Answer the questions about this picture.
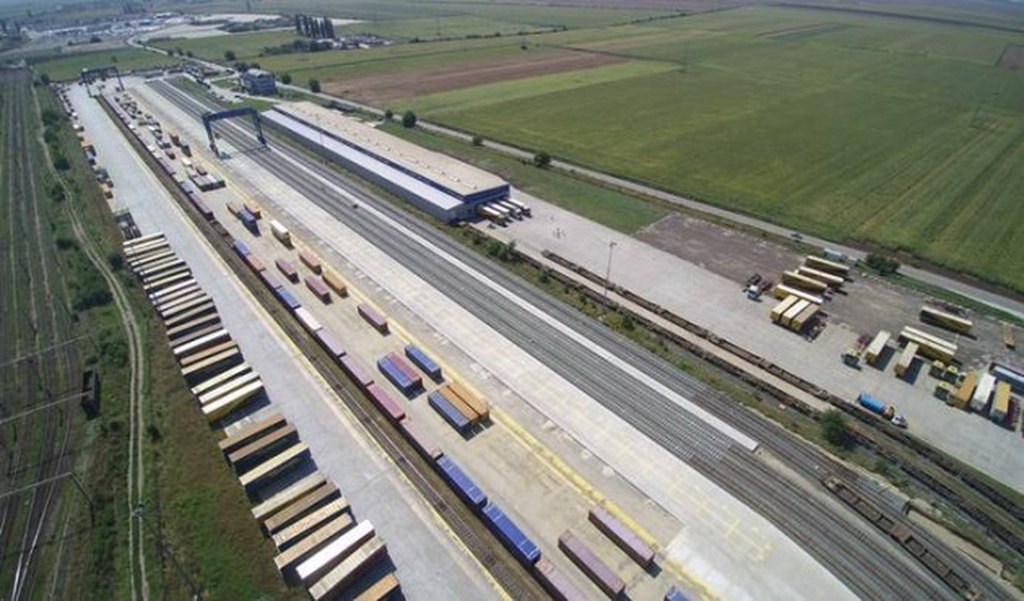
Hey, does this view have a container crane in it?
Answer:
Yes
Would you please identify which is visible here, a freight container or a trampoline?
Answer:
freight container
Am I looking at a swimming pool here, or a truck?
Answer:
truck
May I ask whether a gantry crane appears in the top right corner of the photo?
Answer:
No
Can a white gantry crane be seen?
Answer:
No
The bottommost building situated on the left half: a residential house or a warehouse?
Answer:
warehouse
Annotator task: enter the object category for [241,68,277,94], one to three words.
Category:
building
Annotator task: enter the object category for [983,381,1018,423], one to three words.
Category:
trailer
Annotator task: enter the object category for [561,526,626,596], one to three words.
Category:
shipping container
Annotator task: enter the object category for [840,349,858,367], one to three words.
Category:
vehicle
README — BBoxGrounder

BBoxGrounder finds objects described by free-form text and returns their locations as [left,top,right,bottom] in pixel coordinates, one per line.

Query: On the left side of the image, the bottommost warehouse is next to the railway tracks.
[263,99,507,220]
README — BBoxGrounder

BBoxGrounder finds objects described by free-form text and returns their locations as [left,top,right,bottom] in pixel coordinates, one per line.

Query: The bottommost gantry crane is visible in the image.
[198,106,269,157]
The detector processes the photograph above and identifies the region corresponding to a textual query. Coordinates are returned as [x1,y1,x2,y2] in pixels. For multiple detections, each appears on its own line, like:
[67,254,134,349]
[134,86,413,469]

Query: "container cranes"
[80,66,128,96]
[198,106,269,157]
